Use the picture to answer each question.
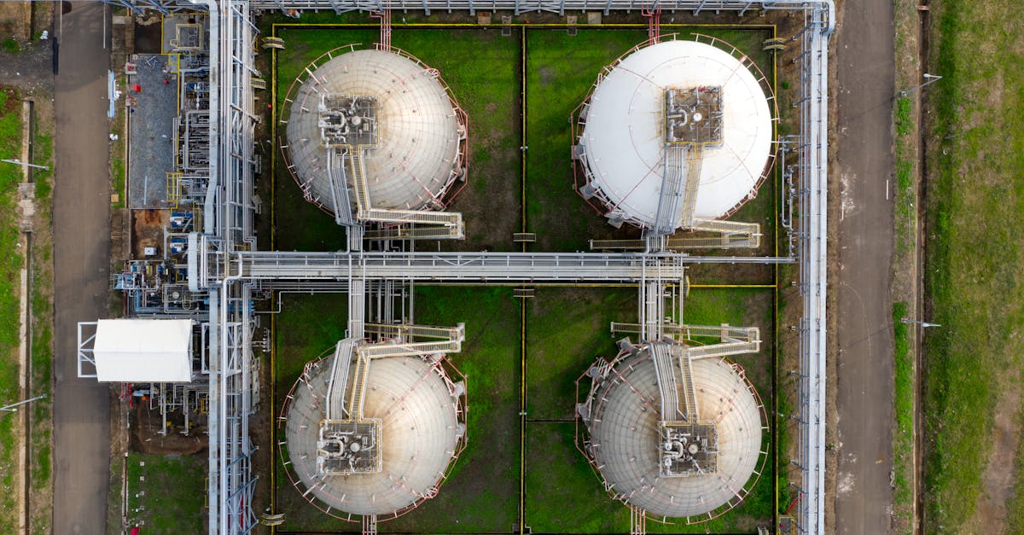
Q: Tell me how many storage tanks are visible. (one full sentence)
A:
Altogether the scene contains 4 storage tanks.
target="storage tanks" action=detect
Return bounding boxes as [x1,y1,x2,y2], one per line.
[276,40,473,236]
[566,31,783,242]
[276,324,473,525]
[570,327,772,527]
